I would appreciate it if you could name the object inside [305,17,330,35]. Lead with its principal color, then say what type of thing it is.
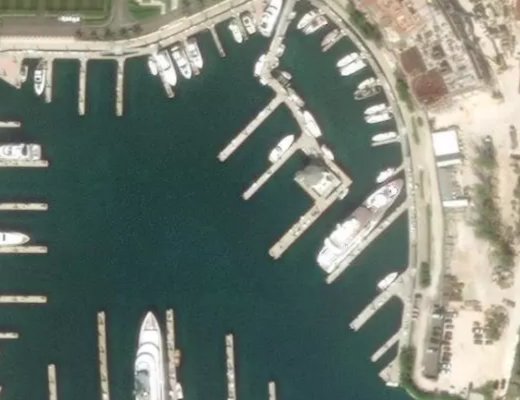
white boat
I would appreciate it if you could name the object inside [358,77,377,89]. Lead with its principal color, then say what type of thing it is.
white boat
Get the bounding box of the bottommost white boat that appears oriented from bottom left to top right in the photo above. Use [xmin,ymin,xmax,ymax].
[376,273,398,291]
